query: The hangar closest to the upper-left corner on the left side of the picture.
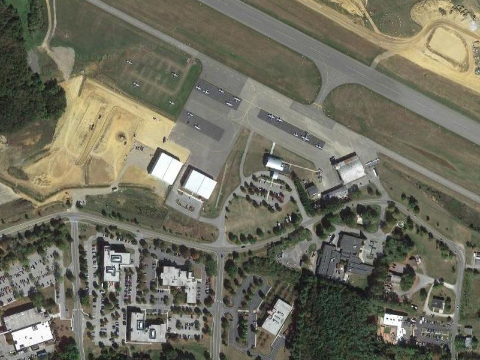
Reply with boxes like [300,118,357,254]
[152,152,183,185]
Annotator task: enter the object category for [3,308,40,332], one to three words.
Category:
building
